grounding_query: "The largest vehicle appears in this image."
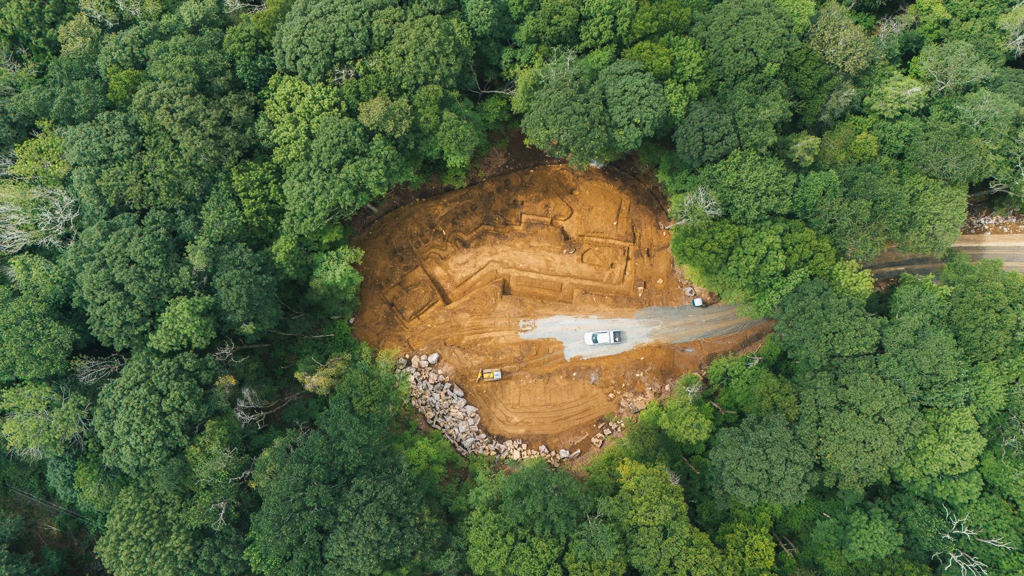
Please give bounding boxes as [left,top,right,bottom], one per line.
[584,329,623,345]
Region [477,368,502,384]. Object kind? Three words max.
work vehicle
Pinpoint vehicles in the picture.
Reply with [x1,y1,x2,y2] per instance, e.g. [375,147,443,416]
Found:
[477,368,502,384]
[584,329,623,345]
